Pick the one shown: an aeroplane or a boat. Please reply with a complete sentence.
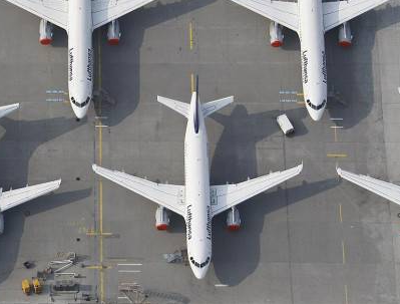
Of the two, only an aeroplane appears.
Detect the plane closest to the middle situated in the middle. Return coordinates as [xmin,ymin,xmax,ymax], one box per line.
[91,77,302,280]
